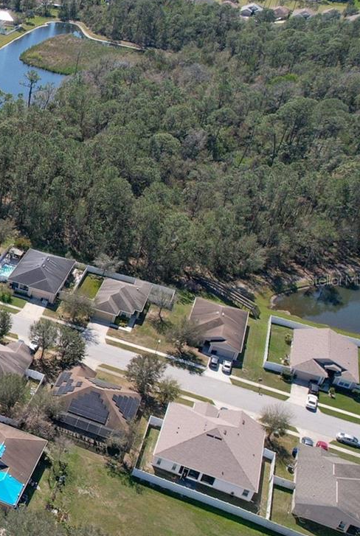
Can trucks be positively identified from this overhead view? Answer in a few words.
No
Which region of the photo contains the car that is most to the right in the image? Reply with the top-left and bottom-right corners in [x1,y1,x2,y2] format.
[338,432,360,447]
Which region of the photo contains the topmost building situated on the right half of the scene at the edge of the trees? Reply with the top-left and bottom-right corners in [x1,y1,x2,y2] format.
[185,297,248,360]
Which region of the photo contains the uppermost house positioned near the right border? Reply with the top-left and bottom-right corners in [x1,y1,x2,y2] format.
[291,329,360,398]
